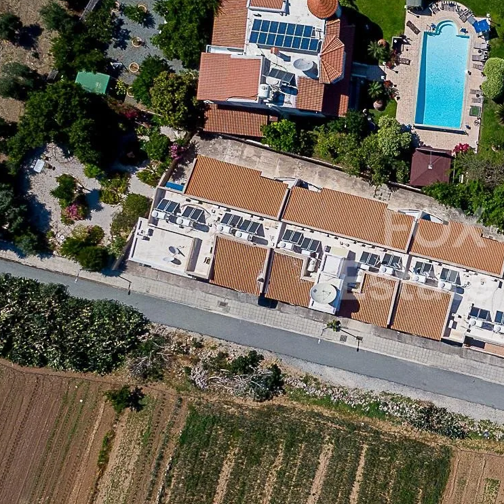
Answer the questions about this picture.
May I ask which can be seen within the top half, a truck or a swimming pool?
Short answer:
swimming pool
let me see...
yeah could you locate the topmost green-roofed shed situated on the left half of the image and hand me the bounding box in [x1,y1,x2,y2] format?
[75,73,116,95]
